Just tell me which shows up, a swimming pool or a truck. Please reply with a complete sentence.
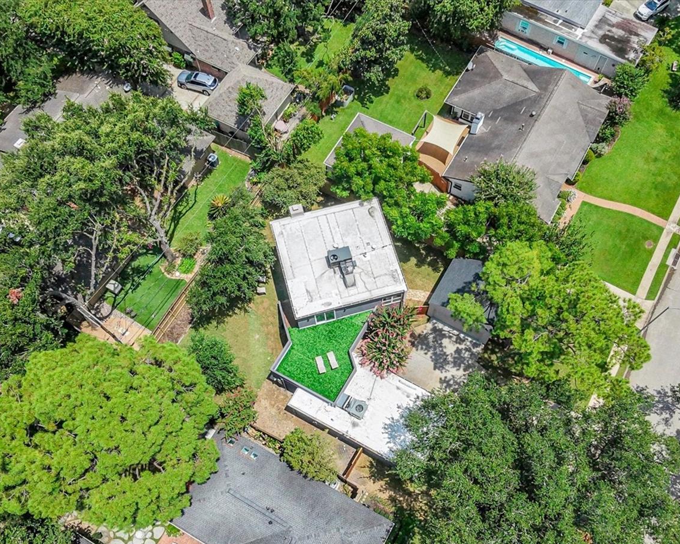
There is a swimming pool in the scene.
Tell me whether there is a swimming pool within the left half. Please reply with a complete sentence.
No, I can find no swimming pool within the left half.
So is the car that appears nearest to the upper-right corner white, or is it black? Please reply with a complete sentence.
The color of the car that appears nearest to the upper-right corner is white.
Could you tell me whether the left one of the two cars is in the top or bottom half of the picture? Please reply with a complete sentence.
The top half of the photo is where the left one of the two cars is.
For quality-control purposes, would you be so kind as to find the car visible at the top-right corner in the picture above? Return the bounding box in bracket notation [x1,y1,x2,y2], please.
[635,0,670,20]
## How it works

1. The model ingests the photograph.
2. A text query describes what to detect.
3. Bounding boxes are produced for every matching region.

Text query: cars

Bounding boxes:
[635,0,670,20]
[174,72,216,97]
